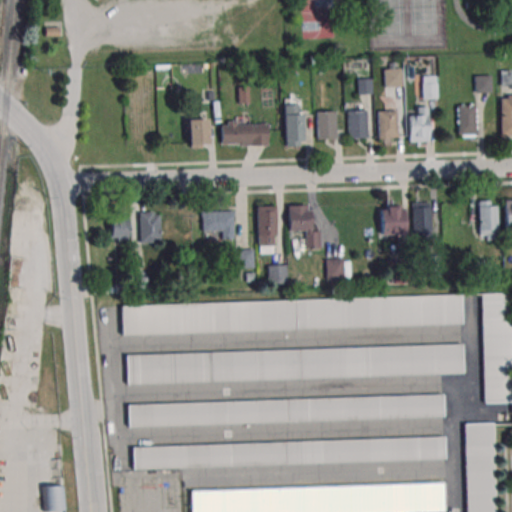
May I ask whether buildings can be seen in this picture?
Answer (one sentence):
Yes, the image includes a building.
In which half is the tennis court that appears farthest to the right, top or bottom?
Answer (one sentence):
You can find the tennis court that appears farthest to the right in the top half.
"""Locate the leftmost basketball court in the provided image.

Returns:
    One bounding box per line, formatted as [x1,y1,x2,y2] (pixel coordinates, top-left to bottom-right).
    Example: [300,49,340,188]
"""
[304,0,335,41]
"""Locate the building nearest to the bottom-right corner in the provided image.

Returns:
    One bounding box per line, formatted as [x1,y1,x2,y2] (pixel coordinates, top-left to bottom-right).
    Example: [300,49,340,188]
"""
[464,422,498,512]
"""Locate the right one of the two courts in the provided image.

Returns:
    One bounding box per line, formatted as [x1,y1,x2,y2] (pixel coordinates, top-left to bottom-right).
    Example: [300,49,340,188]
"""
[372,0,446,48]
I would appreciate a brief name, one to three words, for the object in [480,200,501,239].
house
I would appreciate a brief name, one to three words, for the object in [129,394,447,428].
building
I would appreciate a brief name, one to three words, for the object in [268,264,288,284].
building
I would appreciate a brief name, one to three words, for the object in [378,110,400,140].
house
